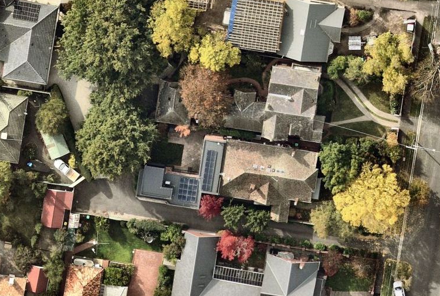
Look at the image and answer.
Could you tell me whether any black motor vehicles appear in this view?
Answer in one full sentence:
No, the photo shows no black motor vehicle.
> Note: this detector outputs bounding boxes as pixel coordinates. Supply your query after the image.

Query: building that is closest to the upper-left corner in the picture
[0,0,61,86]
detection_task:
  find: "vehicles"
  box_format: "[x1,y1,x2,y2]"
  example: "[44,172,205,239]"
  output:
[392,279,405,296]
[53,156,79,184]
